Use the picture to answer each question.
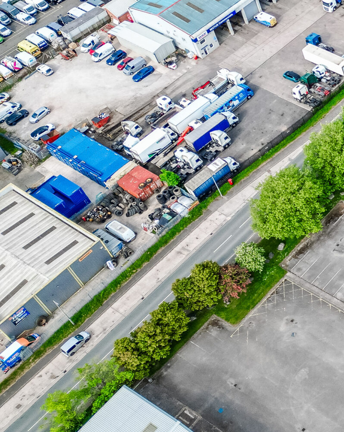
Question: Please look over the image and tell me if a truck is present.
Yes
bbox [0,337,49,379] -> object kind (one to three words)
van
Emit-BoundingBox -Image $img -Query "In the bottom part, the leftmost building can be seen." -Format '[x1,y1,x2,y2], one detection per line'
[0,181,112,343]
